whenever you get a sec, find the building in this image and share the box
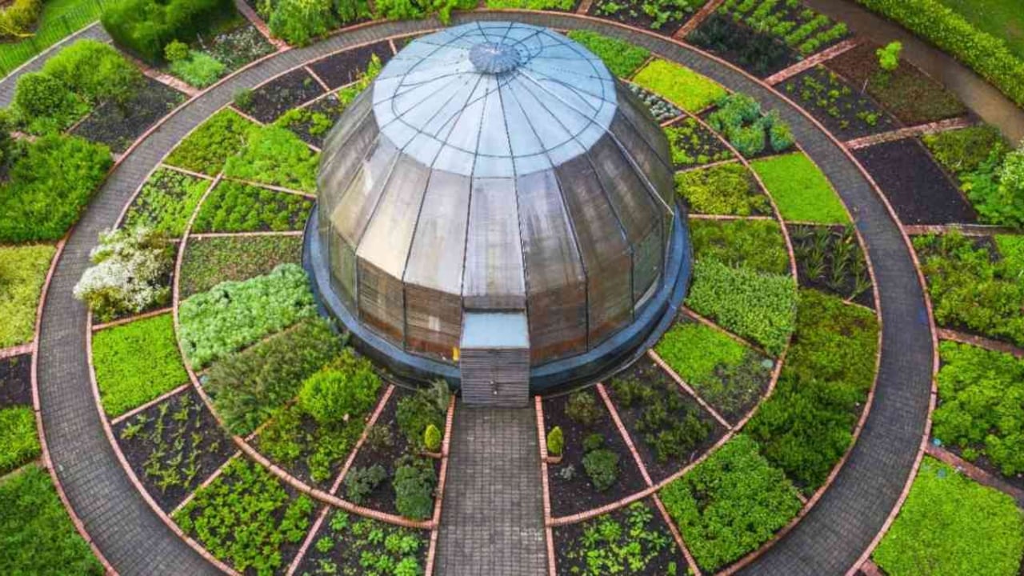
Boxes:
[300,26,691,406]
